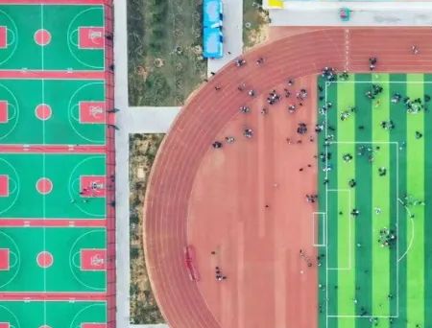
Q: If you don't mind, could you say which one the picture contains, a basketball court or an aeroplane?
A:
basketball court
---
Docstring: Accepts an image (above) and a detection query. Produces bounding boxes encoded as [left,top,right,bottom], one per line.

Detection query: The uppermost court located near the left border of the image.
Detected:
[0,4,104,71]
